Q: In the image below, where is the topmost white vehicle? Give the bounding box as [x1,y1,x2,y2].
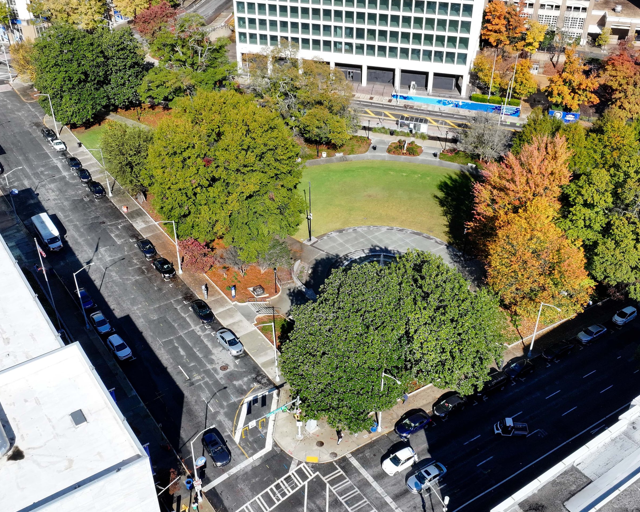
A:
[50,139,67,154]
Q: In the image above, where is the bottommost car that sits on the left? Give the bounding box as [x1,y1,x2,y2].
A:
[199,429,235,469]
